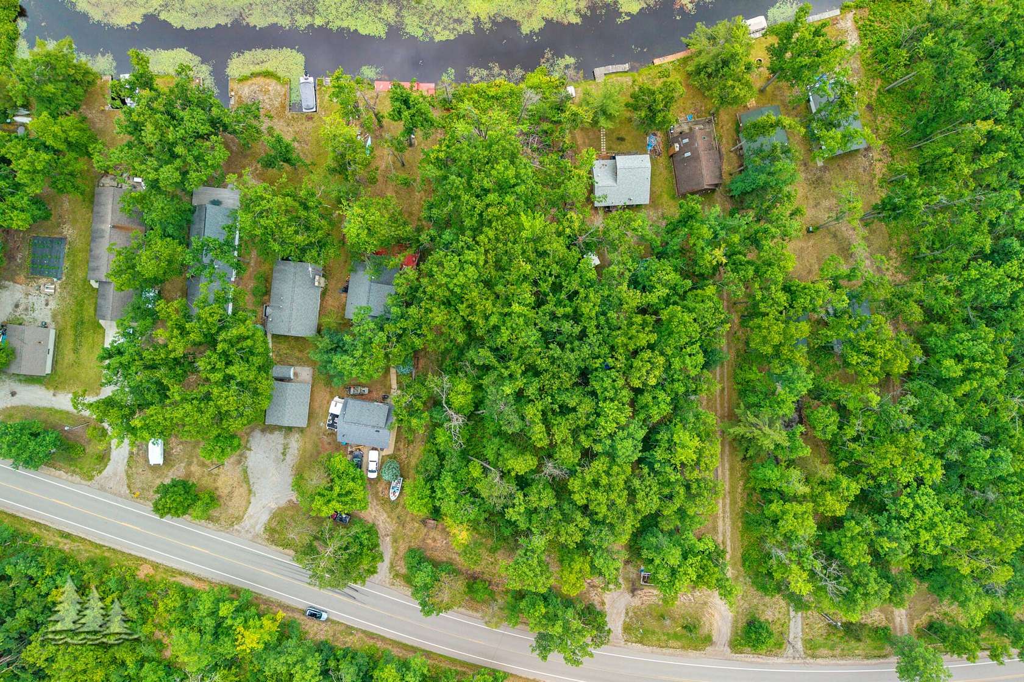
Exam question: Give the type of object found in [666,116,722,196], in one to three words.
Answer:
house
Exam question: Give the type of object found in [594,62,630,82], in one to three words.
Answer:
pier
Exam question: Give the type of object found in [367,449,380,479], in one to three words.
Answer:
vehicle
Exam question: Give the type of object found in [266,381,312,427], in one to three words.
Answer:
building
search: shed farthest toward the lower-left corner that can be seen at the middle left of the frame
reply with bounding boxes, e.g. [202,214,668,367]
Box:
[0,324,58,375]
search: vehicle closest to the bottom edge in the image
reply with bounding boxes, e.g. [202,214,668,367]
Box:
[304,606,329,621]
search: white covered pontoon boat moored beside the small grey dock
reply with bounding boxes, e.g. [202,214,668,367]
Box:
[740,15,766,34]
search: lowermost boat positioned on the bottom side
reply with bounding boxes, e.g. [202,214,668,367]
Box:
[391,474,404,502]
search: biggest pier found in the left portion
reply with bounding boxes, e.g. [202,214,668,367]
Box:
[375,80,435,95]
